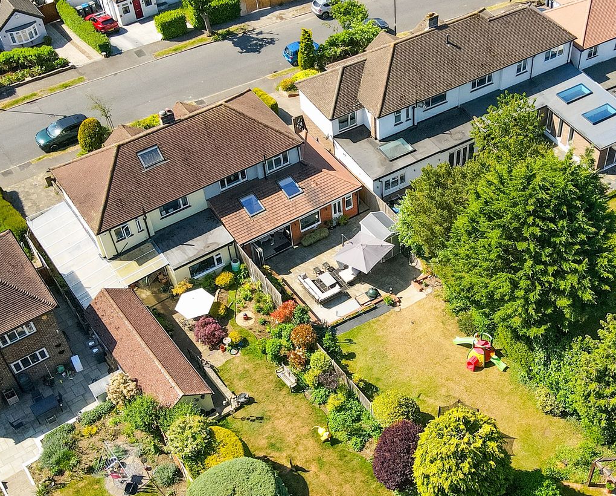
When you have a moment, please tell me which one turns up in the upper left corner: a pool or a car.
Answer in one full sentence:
It is a car that can be seen in the upper left corner.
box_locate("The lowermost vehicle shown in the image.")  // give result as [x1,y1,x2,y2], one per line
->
[31,107,90,151]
